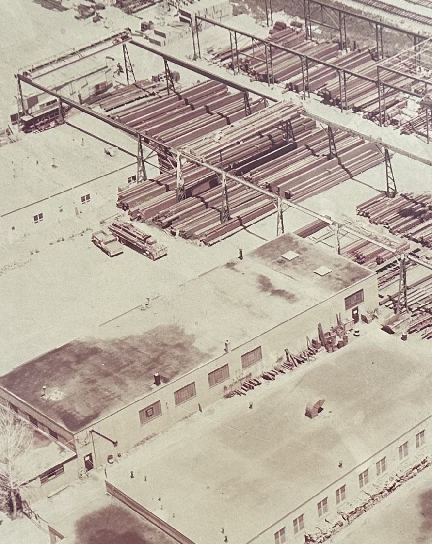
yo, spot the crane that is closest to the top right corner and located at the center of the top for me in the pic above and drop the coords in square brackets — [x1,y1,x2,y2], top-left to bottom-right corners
[175,94,303,162]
